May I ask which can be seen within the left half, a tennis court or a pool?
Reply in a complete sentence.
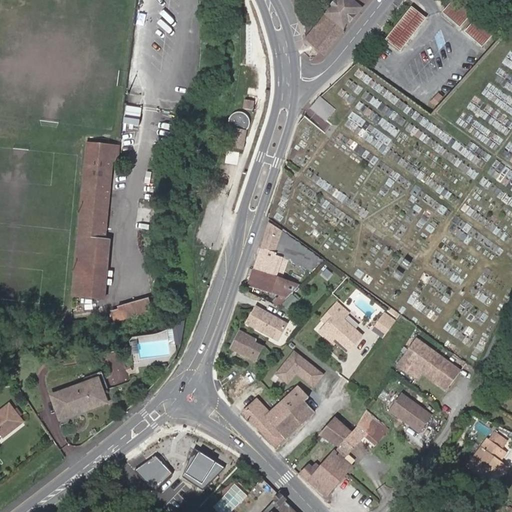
The one visible within the left half is a pool.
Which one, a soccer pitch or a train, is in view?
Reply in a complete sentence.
Visible in the photo is a soccer pitch.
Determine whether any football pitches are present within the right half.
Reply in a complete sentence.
No, there's no football pitch to be seen within the right half.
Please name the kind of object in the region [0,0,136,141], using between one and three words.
soccer field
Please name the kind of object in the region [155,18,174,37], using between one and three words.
vehicle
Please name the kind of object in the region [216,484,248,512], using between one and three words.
greenhouse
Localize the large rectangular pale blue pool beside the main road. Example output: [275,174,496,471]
[132,329,176,372]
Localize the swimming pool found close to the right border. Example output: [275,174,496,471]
[473,418,494,440]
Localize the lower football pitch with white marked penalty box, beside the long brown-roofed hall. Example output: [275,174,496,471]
[0,134,83,306]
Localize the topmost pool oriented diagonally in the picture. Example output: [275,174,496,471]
[356,298,376,320]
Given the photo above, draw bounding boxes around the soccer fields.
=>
[0,0,136,141]
[0,134,83,306]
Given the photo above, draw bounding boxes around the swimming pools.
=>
[356,298,376,320]
[473,418,494,440]
[132,329,176,372]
